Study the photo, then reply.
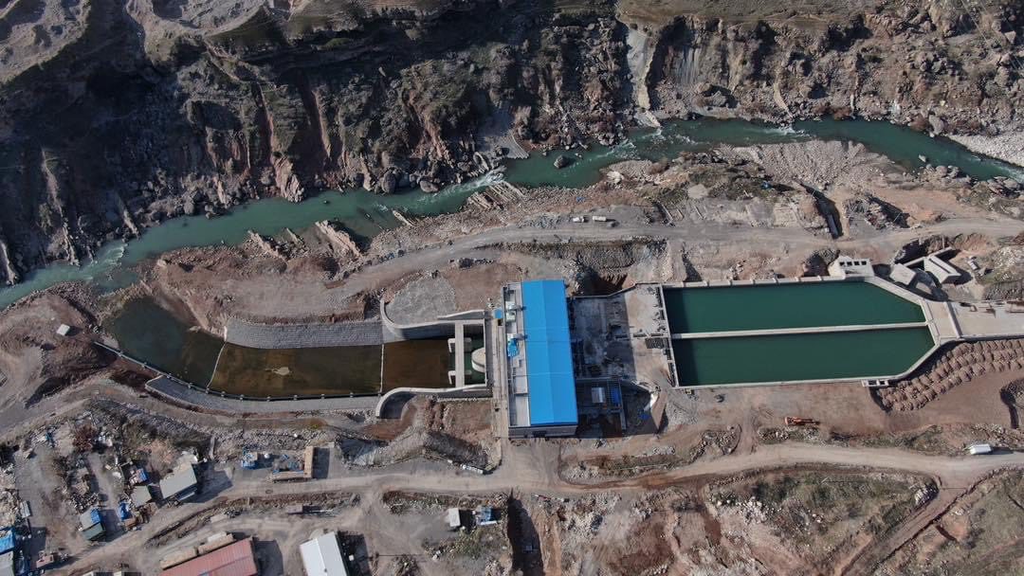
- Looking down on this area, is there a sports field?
No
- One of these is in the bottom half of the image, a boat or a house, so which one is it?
house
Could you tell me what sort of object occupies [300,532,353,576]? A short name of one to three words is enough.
building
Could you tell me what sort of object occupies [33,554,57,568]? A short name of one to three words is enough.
vehicle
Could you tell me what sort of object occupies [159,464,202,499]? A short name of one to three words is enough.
house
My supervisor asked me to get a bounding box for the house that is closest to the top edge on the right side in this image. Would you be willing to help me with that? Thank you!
[828,256,875,282]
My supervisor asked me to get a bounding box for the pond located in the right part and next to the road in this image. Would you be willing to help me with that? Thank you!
[659,271,943,390]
